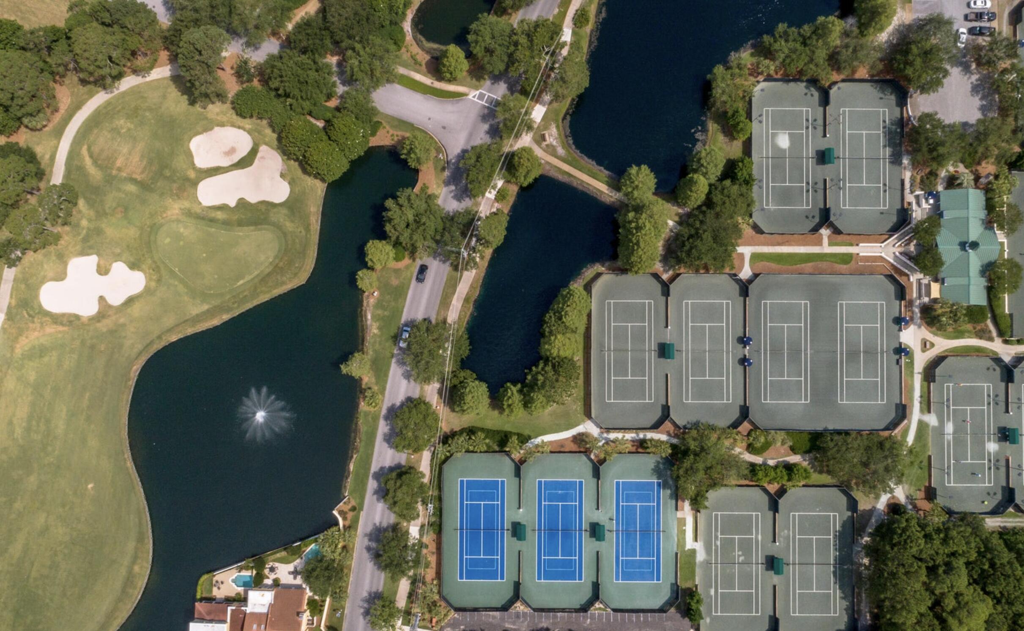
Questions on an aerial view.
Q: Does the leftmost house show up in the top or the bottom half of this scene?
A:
bottom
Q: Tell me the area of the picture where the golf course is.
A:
left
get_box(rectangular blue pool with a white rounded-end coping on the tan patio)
[229,573,250,589]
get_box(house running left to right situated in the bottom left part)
[189,581,312,631]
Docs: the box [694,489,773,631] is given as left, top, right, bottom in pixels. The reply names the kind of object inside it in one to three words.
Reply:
tennis court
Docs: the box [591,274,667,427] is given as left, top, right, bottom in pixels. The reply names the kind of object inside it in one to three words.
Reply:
tennis court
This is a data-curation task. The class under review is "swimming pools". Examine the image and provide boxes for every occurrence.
[229,573,250,589]
[301,542,324,564]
